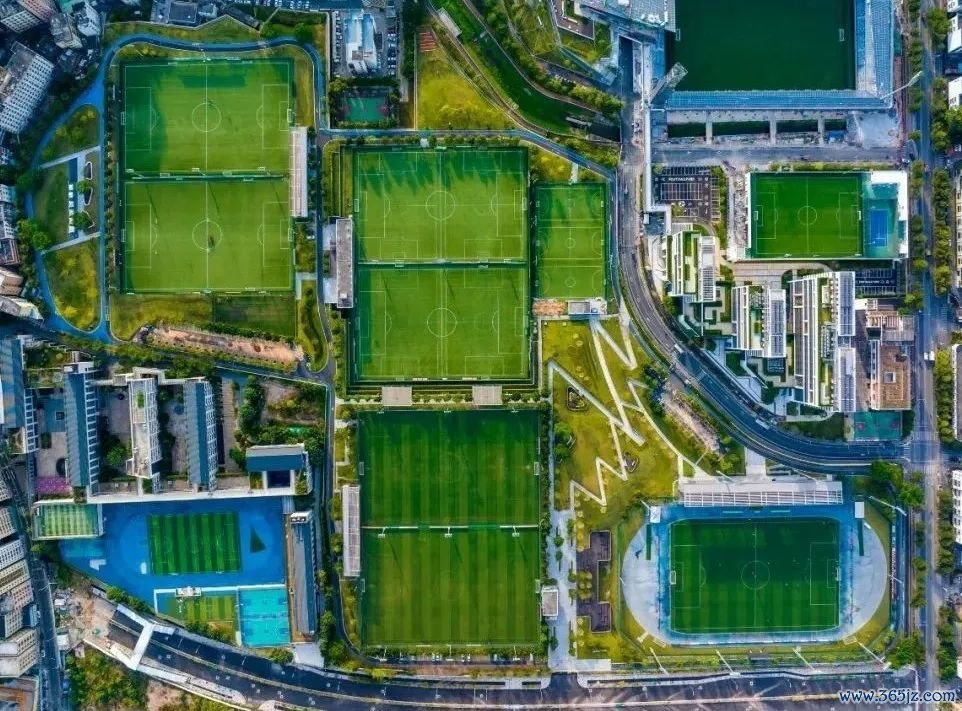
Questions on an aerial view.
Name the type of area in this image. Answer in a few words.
sports ground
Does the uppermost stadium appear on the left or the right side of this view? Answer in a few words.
right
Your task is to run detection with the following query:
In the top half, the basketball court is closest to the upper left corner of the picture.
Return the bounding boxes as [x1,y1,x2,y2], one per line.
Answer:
[345,97,387,121]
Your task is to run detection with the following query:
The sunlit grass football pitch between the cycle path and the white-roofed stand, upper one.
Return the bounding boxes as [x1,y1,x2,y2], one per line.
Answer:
[118,54,297,178]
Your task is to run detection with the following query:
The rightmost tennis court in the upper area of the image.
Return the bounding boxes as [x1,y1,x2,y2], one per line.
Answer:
[862,172,904,255]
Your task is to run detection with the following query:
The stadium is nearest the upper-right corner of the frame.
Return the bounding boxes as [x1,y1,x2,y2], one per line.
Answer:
[576,0,895,146]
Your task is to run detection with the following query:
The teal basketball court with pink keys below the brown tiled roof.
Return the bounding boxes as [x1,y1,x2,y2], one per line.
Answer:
[854,412,903,441]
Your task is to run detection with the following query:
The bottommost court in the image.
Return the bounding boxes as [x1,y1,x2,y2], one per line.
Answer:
[239,587,290,646]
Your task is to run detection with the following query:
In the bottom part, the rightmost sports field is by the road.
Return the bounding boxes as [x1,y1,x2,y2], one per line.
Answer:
[622,495,888,646]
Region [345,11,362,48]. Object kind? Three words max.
building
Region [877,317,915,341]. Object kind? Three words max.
house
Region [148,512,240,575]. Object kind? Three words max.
sports field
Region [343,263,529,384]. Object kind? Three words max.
soccer field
